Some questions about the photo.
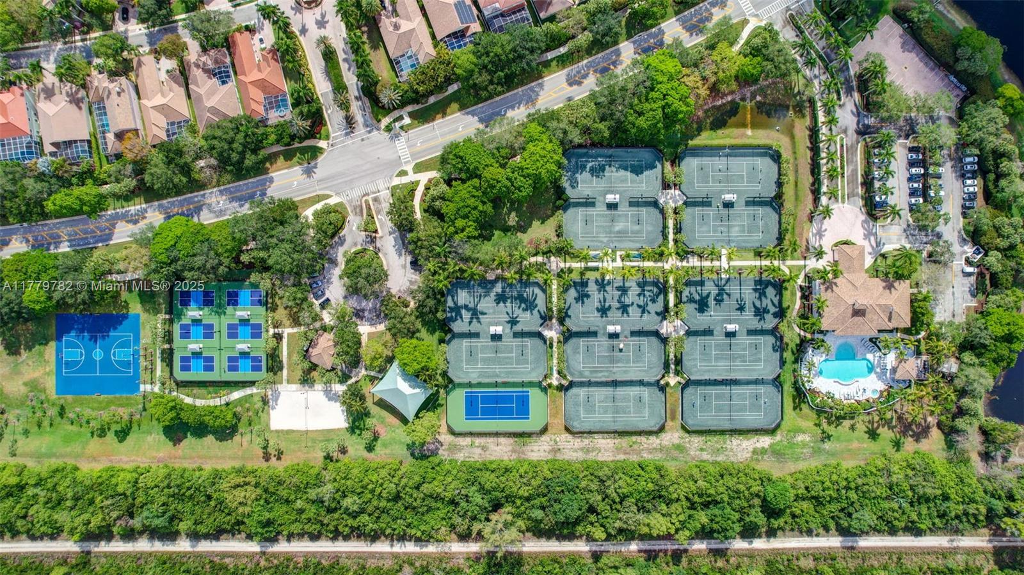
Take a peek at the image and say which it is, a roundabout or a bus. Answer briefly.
roundabout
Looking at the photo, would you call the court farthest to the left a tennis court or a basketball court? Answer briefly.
basketball court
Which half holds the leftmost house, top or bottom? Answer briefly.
top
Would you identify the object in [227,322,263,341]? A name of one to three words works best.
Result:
sports court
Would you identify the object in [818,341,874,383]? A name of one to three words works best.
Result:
swimming pool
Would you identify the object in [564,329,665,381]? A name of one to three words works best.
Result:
tennis court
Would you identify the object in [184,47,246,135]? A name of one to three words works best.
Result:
house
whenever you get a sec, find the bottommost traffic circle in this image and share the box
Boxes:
[340,244,389,301]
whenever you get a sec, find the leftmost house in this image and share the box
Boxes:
[0,81,46,163]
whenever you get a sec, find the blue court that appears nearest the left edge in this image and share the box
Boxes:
[56,313,140,395]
